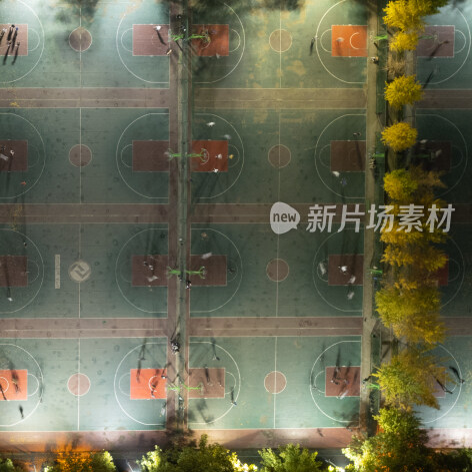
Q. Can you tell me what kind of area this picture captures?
sports ground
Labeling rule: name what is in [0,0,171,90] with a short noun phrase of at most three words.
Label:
basketball court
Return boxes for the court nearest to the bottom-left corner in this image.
[0,336,167,430]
